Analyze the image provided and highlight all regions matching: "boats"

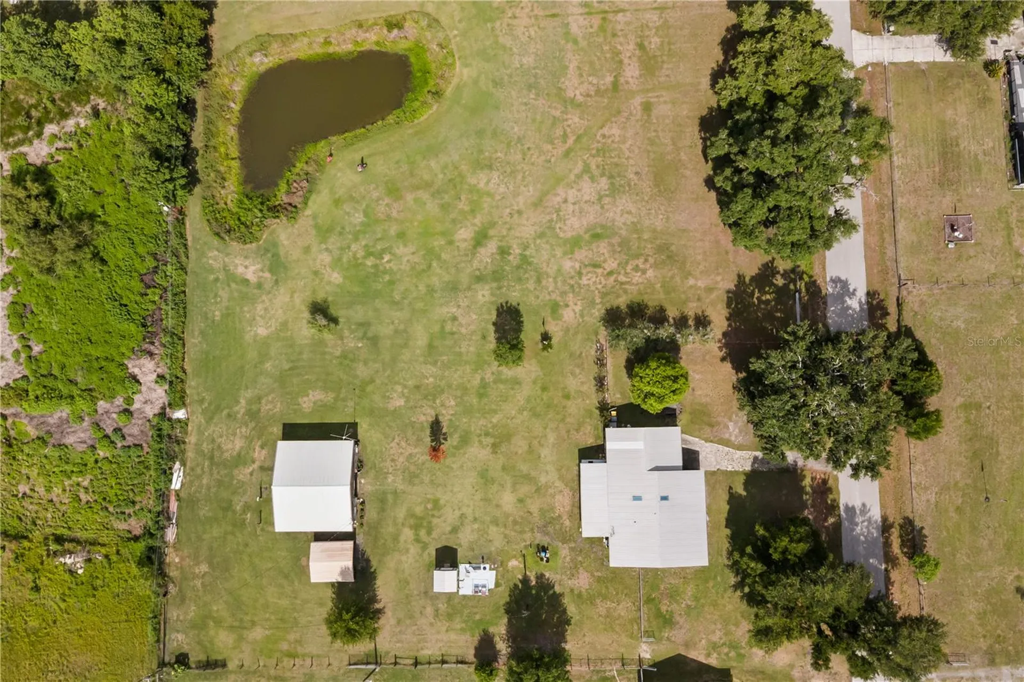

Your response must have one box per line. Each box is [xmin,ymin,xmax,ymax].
[171,465,185,491]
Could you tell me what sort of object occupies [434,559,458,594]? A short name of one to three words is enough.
shed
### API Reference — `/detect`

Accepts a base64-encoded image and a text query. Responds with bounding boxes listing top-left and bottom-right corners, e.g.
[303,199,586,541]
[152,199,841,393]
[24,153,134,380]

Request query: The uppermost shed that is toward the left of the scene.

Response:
[272,440,357,532]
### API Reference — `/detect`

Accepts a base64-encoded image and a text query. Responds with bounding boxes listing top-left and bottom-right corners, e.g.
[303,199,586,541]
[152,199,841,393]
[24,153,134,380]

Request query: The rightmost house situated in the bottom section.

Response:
[579,426,709,571]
